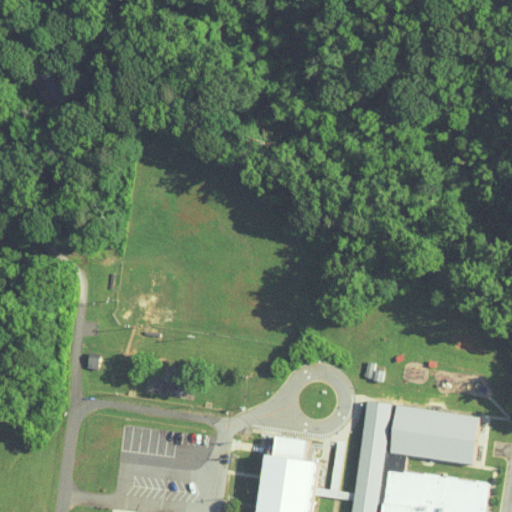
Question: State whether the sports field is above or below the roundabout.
above it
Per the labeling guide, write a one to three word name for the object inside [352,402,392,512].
building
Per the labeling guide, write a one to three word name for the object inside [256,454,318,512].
building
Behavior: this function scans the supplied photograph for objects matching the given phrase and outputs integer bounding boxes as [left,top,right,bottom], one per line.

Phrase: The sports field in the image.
[115,160,282,344]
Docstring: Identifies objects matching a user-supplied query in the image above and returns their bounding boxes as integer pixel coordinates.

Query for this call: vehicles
[204,435,210,447]
[172,482,178,492]
[191,433,196,444]
[196,434,202,445]
[166,432,172,442]
[188,481,197,496]
[176,432,182,444]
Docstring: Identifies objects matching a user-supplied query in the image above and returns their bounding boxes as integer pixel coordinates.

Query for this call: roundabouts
[232,361,356,440]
